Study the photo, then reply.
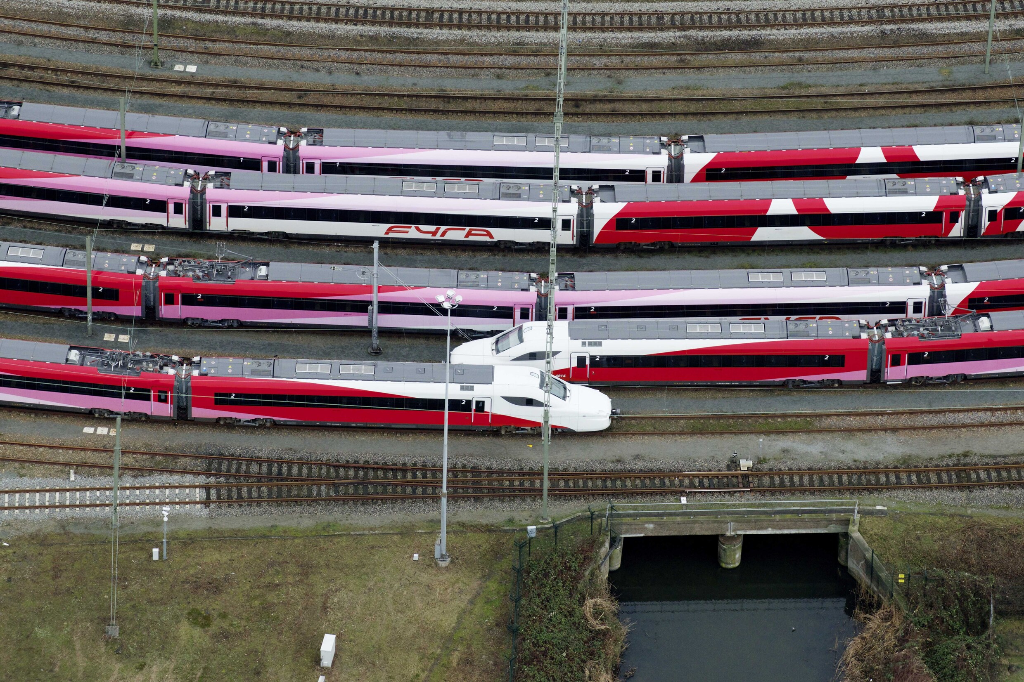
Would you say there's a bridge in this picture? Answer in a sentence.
Yes, a bridge appears in the view.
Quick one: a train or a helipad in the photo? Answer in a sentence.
The image shows a train.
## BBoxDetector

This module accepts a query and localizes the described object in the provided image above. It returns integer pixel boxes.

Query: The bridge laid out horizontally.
[605,507,858,562]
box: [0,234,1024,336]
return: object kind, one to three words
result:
train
